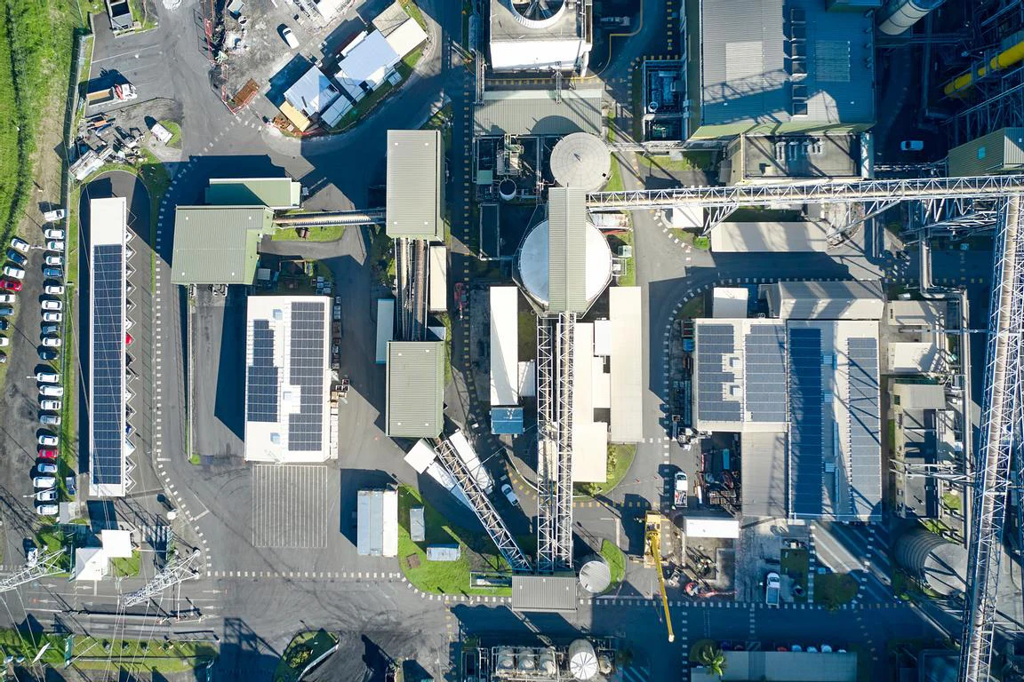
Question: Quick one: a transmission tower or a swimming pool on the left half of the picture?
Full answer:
Visible on the left half of the picture is a transmission tower.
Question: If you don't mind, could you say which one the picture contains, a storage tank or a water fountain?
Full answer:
There is a storage tank in the scene.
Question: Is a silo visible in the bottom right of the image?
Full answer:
Yes, a silo is visible in the bottom right of the image.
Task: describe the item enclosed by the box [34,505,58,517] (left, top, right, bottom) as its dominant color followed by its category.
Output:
white vehicle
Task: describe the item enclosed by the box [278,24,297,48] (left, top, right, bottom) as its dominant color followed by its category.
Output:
white vehicle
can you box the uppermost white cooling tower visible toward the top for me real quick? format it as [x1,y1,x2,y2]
[490,0,596,69]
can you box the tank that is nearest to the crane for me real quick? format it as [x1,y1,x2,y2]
[575,549,611,593]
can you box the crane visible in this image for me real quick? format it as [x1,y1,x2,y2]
[628,513,674,641]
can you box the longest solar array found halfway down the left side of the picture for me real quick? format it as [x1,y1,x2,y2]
[93,245,122,484]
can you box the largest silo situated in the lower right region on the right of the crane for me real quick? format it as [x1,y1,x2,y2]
[890,529,970,593]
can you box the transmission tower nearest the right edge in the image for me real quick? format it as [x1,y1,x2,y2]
[104,549,200,614]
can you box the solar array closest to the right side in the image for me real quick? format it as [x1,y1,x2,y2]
[848,338,880,517]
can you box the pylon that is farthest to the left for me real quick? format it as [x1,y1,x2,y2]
[0,546,67,593]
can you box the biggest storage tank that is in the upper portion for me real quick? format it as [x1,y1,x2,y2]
[512,186,613,320]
